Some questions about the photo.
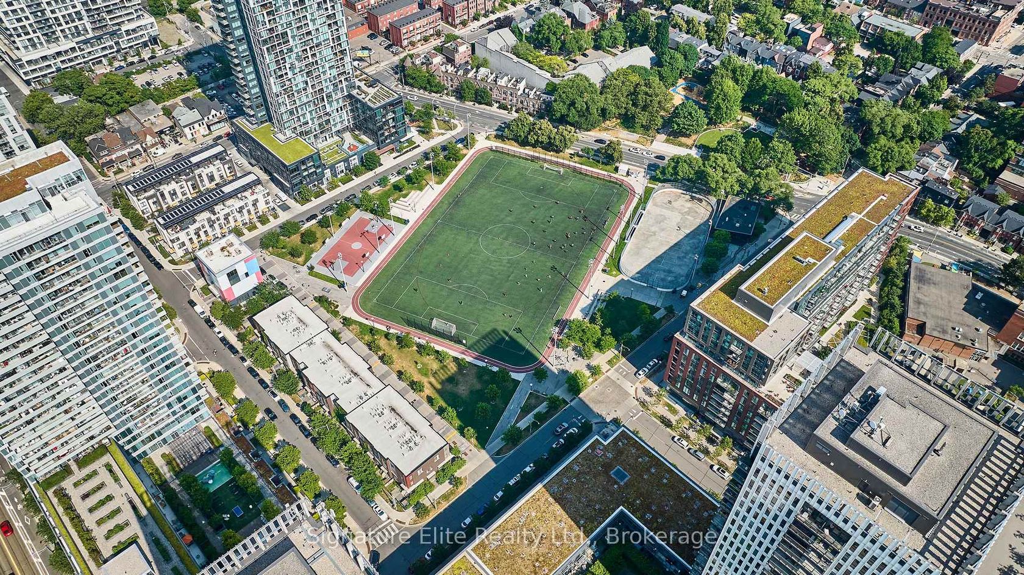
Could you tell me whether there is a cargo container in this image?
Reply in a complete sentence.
No, no cargo container can be seen from above.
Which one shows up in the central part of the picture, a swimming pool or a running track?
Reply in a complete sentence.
What appears in the central part of the picture is a running track.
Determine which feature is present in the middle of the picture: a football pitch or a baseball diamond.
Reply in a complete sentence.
There is a football pitch in the middle of the picture.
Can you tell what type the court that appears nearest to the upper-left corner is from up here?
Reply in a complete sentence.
In the photo, the court that appears nearest to the upper-left corner shows up as a basketball court.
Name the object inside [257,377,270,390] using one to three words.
vehicle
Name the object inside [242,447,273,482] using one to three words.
house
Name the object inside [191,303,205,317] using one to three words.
vehicle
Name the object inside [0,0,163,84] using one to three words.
building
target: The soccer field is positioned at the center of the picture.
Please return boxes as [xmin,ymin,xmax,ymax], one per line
[361,150,628,365]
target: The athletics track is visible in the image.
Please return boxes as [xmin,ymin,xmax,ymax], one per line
[354,147,634,372]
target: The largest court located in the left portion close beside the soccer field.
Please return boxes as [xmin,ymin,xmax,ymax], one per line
[305,209,407,285]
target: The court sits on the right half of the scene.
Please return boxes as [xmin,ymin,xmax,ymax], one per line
[621,182,714,290]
